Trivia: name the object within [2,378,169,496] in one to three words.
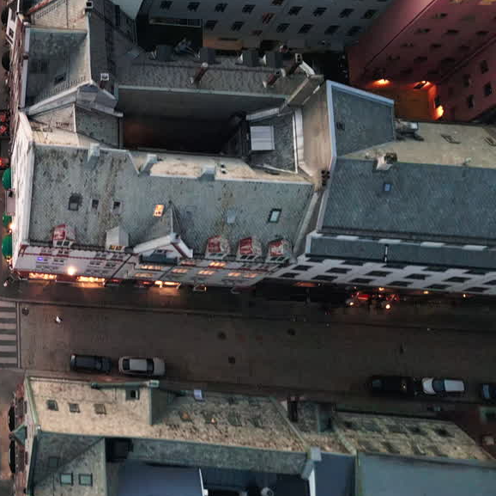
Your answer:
house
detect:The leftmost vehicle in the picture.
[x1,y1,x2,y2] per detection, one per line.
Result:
[68,353,112,374]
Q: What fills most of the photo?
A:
buildings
